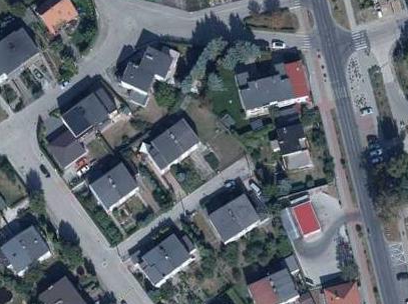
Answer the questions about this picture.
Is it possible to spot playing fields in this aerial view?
No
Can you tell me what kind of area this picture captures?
residential area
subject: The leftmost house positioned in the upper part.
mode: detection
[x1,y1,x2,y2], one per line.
[0,29,41,84]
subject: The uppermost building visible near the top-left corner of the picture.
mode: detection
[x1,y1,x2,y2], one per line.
[39,0,79,36]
